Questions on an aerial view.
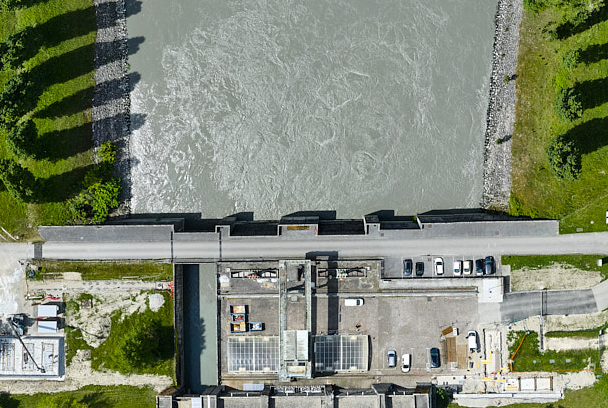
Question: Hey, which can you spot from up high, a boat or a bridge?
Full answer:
Of the two, only a bridge appears.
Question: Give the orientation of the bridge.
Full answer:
The bridge is oriented from left to right.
